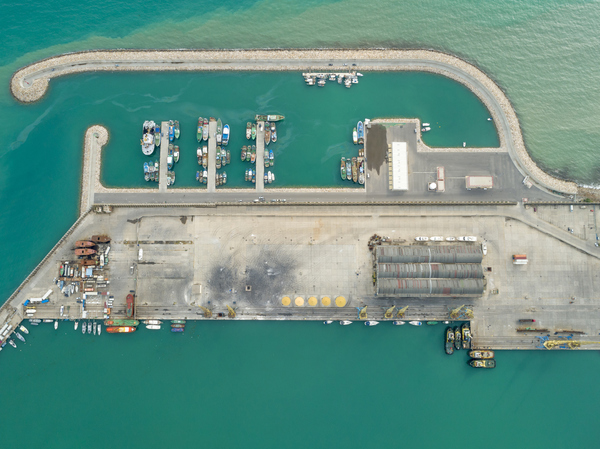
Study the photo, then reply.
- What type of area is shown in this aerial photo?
port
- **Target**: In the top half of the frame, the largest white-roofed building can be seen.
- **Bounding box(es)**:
[388,142,408,191]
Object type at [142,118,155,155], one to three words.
boat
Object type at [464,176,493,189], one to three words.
building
